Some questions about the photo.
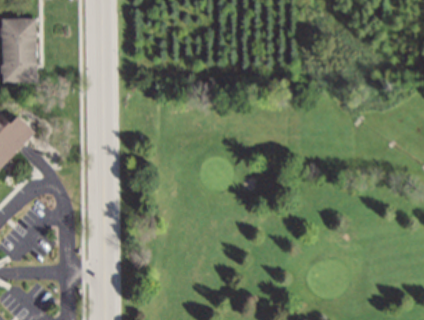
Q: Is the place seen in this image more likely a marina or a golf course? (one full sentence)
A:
It's a golf course.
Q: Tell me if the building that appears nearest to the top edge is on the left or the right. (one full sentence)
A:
The building that appears nearest to the top edge appears in the left half of the scene.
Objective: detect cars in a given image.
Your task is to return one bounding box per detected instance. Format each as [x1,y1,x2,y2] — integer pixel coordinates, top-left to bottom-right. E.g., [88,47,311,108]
[40,240,50,251]
[2,239,13,250]
[34,252,44,262]
[18,219,28,228]
[86,268,97,278]
[42,290,52,300]
[34,203,44,215]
